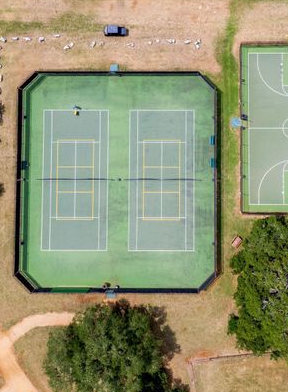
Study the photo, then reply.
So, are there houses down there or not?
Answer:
No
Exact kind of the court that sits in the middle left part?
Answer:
tennis court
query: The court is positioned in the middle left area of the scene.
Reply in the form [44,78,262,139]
[41,109,109,251]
